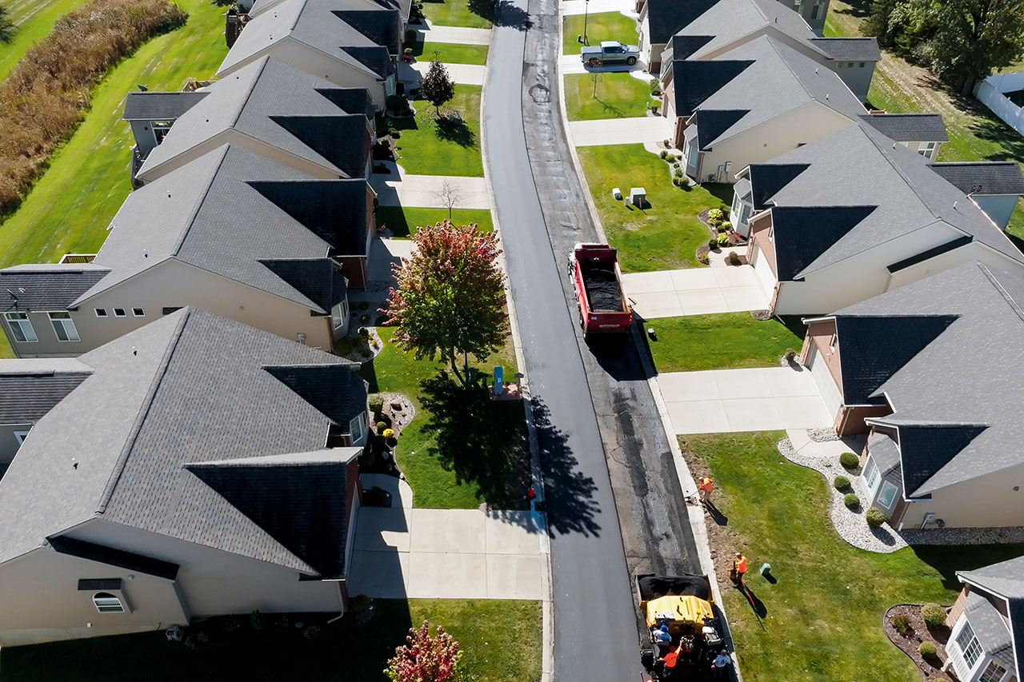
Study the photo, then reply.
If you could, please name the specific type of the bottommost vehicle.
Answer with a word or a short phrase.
truck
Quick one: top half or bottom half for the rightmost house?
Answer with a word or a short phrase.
bottom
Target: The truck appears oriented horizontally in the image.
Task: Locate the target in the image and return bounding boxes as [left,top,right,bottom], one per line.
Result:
[581,41,642,64]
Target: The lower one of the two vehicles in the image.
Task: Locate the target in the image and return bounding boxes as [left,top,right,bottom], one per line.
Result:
[566,237,637,344]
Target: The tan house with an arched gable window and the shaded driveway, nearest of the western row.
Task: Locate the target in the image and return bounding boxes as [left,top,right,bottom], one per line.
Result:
[0,306,375,654]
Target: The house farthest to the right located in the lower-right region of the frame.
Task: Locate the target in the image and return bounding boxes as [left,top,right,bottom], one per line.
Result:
[936,555,1024,682]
